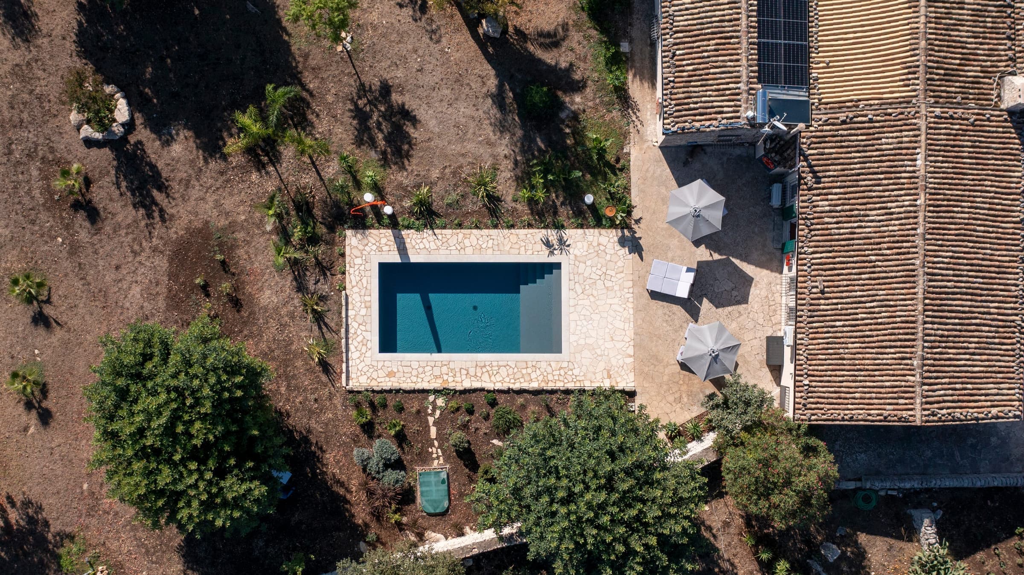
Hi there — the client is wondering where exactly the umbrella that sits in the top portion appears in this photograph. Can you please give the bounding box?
[666,179,725,241]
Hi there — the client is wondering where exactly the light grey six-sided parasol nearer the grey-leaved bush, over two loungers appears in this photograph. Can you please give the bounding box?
[681,321,741,381]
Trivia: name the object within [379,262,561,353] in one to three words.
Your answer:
swimming pool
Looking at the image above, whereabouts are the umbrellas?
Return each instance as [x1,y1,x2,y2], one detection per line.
[666,179,725,241]
[681,321,741,381]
